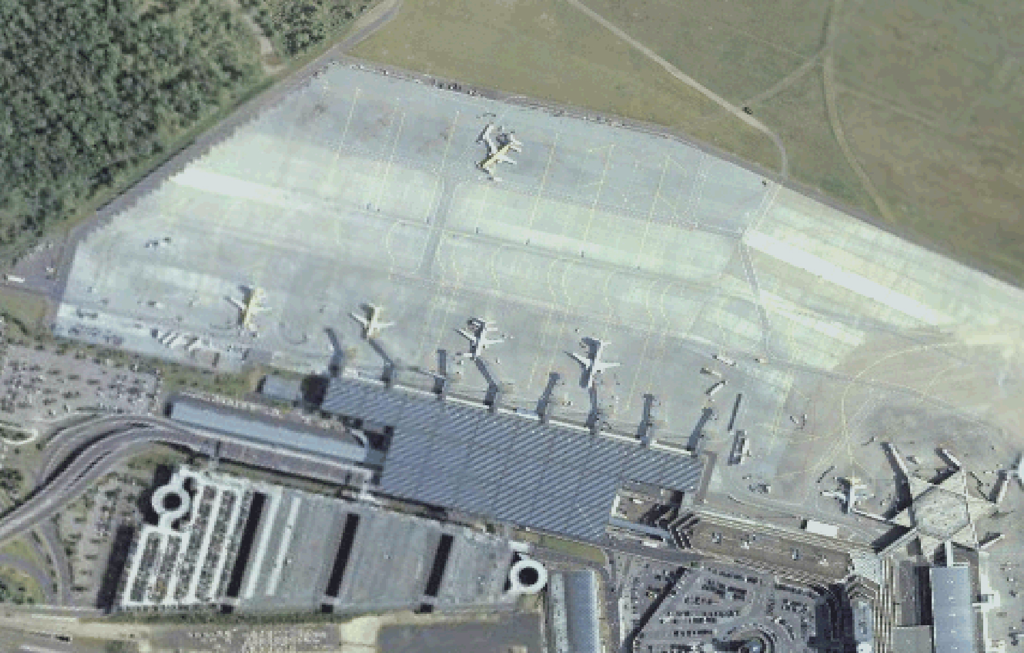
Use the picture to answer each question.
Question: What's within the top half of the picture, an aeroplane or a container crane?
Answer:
aeroplane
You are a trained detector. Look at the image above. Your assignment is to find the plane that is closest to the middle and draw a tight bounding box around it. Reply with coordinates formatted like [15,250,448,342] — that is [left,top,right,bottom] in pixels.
[462,316,505,358]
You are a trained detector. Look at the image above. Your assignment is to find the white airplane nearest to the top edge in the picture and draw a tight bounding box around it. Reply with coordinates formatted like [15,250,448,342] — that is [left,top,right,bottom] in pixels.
[480,133,520,169]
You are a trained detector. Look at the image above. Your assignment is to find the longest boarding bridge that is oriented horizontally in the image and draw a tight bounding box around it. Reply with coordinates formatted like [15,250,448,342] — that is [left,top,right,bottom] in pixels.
[852,508,895,522]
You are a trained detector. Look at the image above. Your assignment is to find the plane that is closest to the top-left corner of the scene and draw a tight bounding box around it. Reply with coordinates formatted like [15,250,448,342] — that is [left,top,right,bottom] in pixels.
[234,284,275,329]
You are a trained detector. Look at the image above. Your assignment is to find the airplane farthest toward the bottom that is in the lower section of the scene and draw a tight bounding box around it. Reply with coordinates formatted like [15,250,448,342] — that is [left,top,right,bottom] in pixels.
[828,473,877,515]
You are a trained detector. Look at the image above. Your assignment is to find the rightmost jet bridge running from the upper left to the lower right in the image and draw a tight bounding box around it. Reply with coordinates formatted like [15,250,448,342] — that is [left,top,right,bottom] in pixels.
[940,448,966,471]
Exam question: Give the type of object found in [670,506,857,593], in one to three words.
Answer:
building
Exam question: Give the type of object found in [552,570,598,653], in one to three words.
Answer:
hangar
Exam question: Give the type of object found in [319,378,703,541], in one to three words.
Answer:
building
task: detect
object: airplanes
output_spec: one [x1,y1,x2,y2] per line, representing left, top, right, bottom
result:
[828,473,877,515]
[575,337,621,390]
[356,301,396,338]
[462,316,505,358]
[480,133,520,169]
[234,284,275,329]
